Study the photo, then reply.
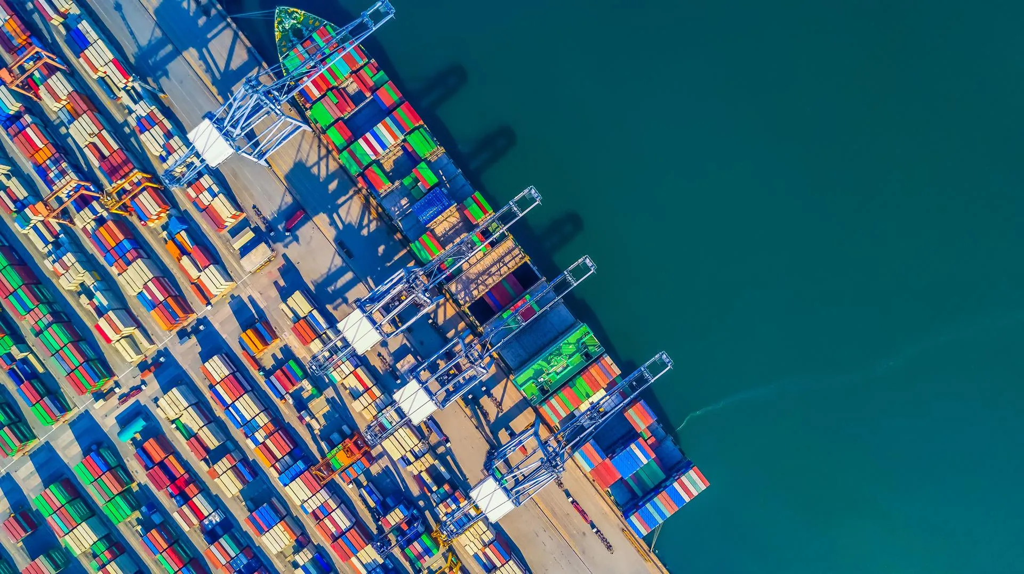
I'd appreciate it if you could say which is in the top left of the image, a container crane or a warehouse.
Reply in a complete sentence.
It is a container crane that can be seen in the top left of the image.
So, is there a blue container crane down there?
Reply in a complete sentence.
Yes, there's a blue container crane here.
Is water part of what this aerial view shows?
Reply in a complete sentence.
Yes, water can be seen from above here.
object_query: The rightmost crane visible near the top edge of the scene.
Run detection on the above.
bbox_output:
[156,0,394,193]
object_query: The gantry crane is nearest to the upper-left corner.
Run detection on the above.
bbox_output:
[0,43,76,101]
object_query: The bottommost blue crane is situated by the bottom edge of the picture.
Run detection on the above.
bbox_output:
[369,499,425,558]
